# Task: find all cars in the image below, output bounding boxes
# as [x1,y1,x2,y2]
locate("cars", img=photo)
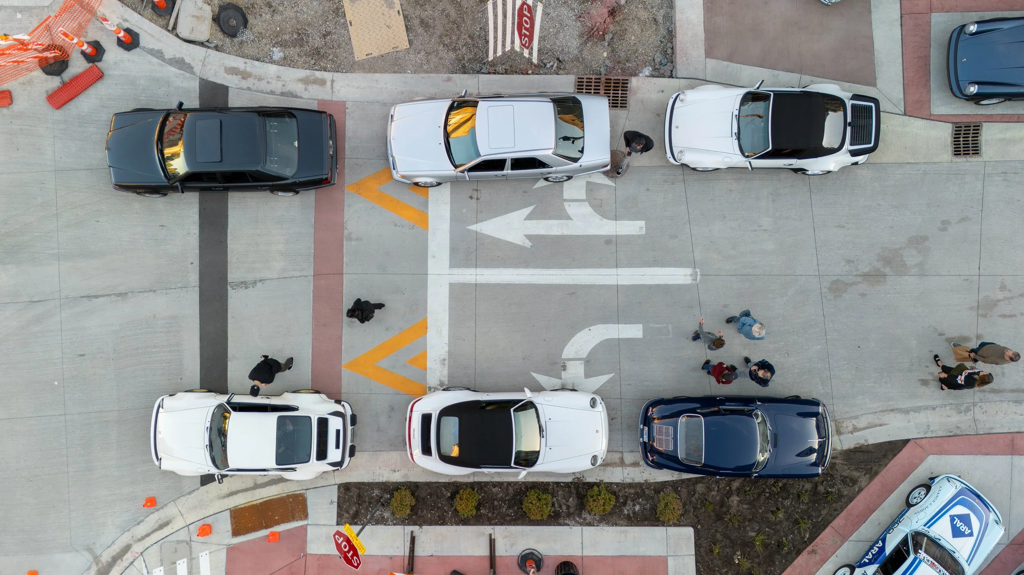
[387,89,612,184]
[666,80,880,172]
[808,0,844,7]
[835,473,1005,575]
[153,390,359,483]
[104,102,340,197]
[405,387,605,478]
[638,394,832,479]
[943,17,1024,104]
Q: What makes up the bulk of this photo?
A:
paved ground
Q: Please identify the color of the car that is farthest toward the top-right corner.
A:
blue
